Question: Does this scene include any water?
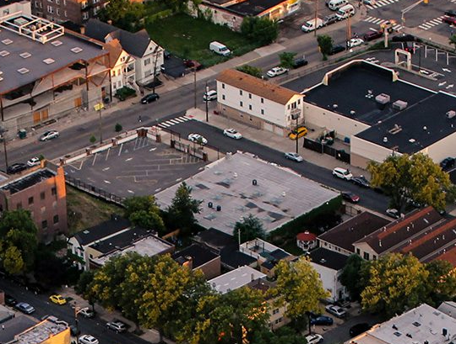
No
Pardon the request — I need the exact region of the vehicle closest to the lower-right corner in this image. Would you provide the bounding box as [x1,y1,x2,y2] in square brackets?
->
[347,322,372,338]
